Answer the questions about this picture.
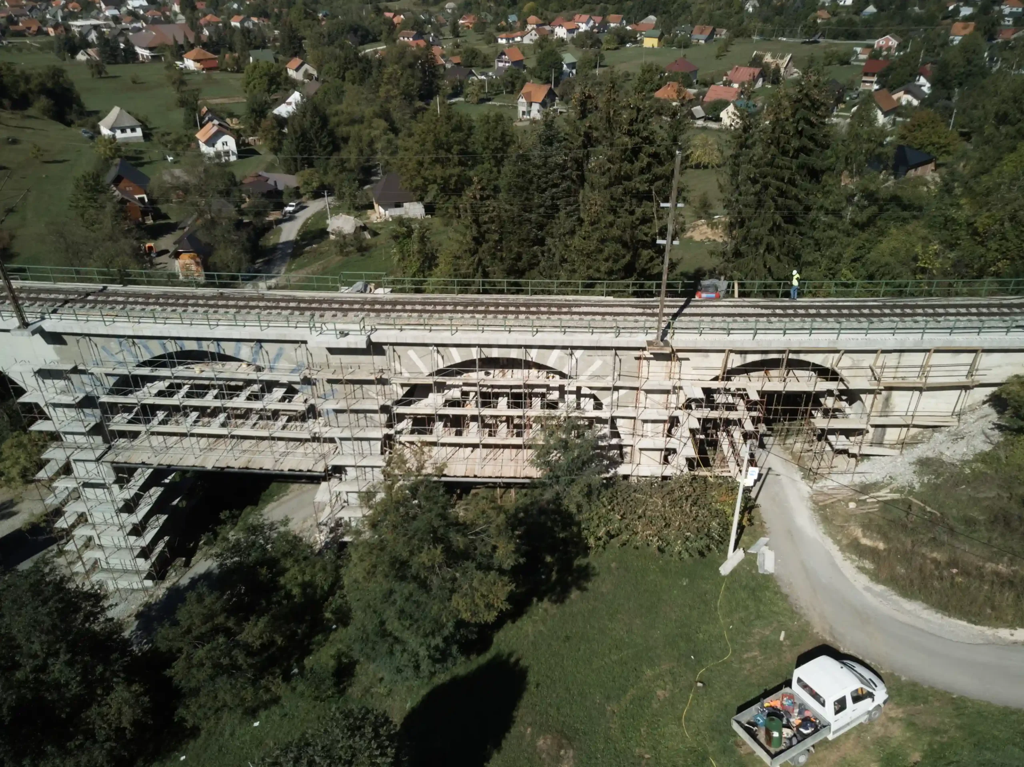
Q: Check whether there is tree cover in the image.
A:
Yes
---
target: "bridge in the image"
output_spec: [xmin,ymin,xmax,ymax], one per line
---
[0,276,1024,564]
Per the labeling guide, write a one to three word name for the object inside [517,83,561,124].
house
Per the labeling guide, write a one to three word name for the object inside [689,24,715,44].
house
